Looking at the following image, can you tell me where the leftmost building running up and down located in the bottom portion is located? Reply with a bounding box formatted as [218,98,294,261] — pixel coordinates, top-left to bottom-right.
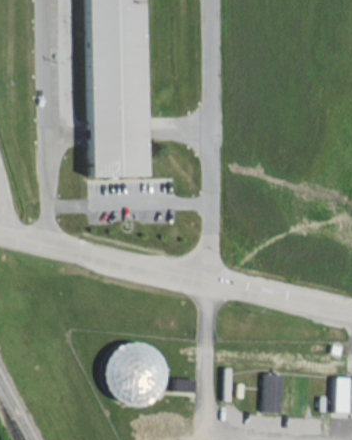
[222,367,234,402]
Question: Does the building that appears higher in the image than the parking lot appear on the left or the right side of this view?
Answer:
left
